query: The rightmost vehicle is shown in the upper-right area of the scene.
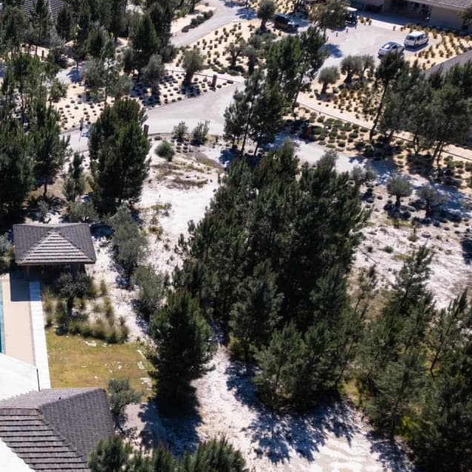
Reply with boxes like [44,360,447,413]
[402,30,433,47]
